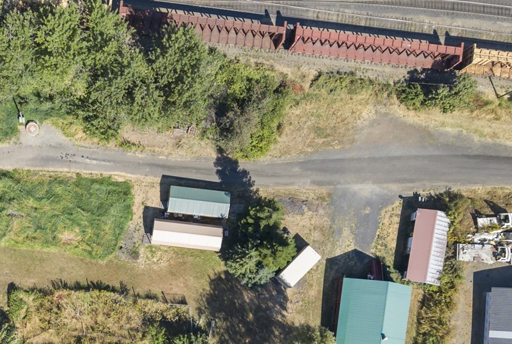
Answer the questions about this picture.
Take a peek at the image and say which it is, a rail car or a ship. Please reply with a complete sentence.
This aerial view contains a rail car.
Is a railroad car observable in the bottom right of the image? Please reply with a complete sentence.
No, there is no railroad car in the bottom right of the image.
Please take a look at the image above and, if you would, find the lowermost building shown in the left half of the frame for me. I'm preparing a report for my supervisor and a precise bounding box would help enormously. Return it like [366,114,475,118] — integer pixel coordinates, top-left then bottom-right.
[151,219,223,252]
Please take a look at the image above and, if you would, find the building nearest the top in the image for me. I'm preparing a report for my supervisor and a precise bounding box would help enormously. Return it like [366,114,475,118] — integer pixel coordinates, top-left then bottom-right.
[167,186,231,219]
